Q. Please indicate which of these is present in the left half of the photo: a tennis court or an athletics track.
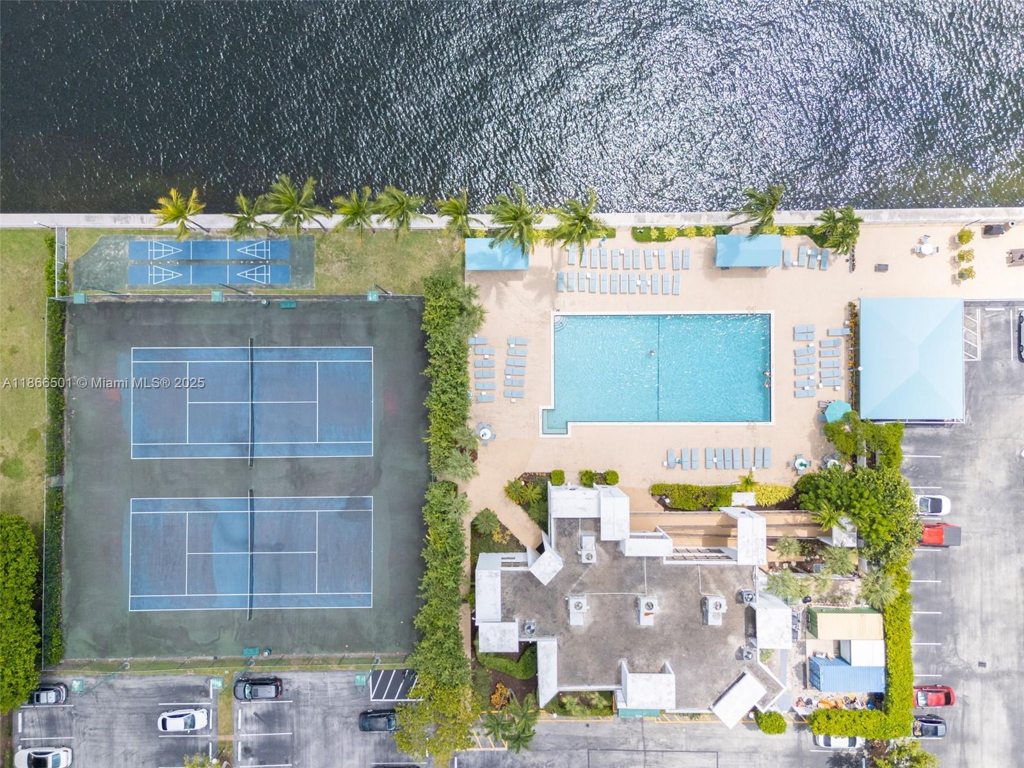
tennis court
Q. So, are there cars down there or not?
Yes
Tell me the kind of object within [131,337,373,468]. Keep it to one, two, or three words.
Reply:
tennis court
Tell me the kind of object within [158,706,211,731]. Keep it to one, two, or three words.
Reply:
car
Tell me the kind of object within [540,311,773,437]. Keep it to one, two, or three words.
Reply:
swimming pool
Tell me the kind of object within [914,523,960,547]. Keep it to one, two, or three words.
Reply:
truck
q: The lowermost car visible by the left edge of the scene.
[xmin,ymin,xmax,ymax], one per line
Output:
[20,745,74,768]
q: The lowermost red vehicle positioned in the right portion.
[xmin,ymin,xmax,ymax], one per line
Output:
[910,683,955,707]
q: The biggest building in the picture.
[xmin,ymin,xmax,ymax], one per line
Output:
[475,483,856,730]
